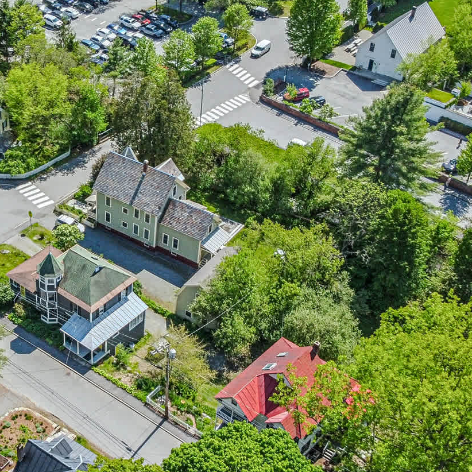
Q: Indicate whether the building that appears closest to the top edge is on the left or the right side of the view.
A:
right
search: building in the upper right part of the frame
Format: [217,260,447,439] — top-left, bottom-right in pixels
[345,1,446,82]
